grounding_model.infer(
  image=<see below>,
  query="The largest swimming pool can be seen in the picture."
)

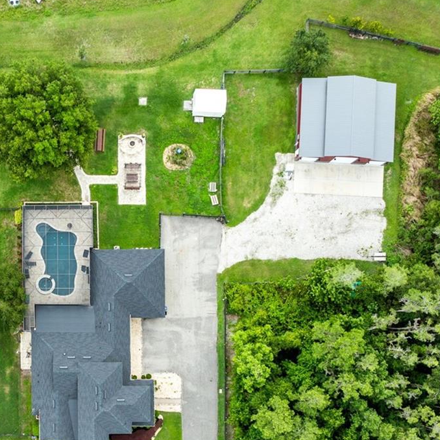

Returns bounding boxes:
[34,222,78,297]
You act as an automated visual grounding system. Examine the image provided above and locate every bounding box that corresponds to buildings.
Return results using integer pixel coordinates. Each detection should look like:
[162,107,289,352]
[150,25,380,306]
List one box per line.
[191,91,225,120]
[291,75,396,166]
[31,249,165,440]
